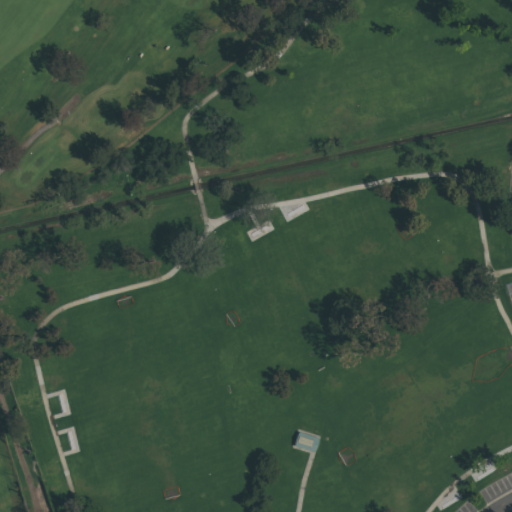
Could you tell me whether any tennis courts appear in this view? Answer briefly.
No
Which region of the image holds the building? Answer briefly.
bottom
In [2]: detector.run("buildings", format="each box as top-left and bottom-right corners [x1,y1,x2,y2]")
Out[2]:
[293,430,322,452]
